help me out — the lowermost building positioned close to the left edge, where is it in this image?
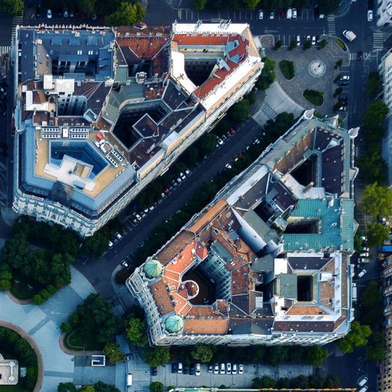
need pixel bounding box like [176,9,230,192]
[14,124,139,235]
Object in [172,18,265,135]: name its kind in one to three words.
building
